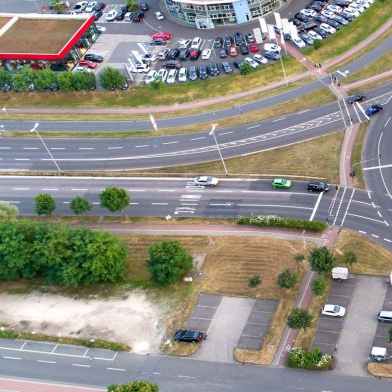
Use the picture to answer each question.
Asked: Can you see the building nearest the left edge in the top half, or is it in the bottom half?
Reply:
top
